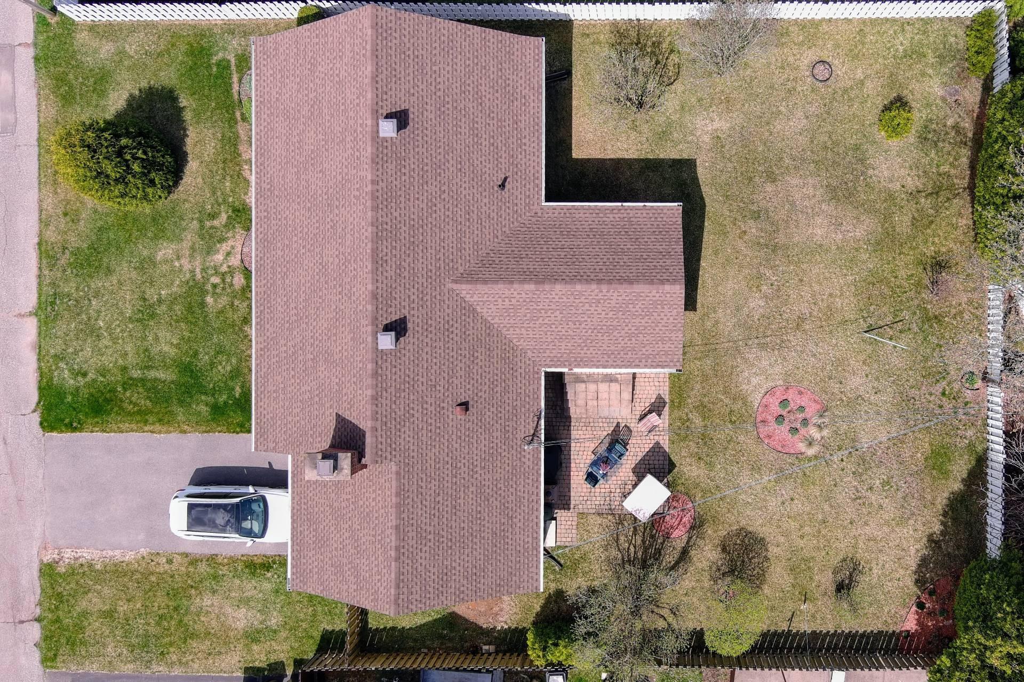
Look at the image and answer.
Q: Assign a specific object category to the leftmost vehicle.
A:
car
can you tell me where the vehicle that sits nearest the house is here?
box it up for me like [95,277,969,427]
[169,481,286,547]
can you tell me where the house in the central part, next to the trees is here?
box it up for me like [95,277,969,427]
[250,4,684,616]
